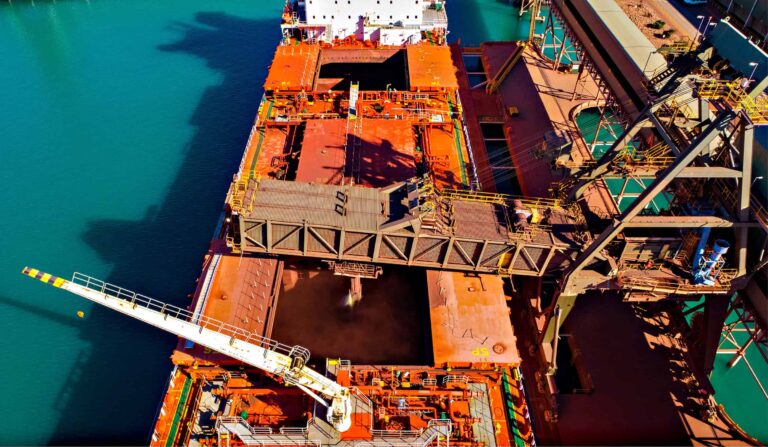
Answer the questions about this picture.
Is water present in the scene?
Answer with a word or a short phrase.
Yes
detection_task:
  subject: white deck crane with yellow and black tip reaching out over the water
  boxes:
[20,266,372,442]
